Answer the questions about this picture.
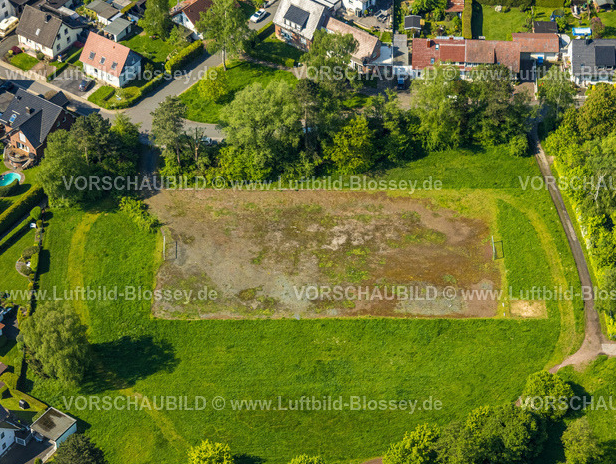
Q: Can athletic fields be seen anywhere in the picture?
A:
Yes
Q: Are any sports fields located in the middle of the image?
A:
Yes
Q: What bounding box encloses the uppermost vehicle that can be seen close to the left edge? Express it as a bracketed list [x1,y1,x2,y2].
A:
[0,12,19,35]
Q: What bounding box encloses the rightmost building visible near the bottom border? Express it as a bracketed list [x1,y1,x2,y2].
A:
[30,406,77,449]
